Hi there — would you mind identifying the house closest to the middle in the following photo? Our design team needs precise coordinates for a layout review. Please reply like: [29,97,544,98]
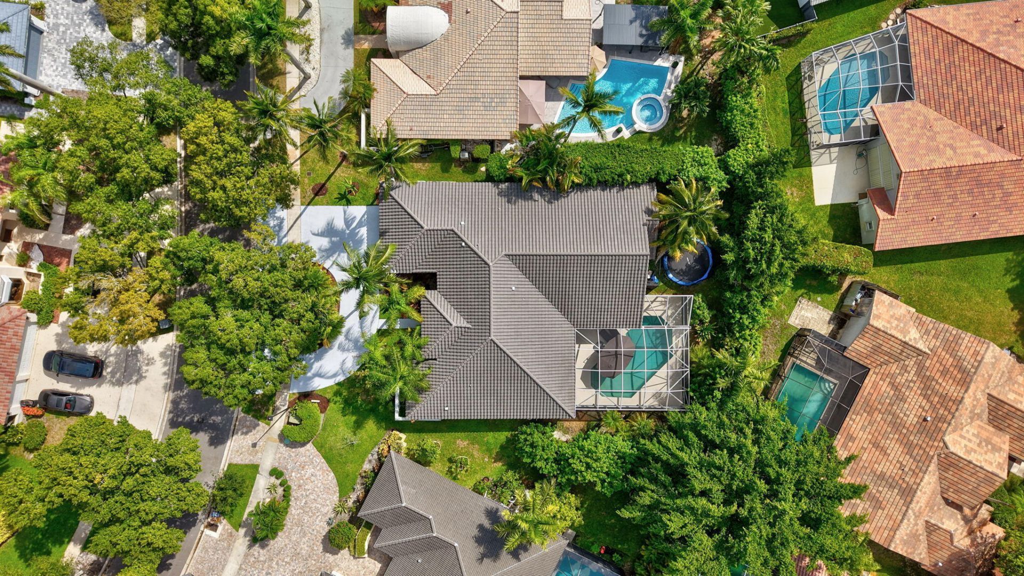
[378,180,659,421]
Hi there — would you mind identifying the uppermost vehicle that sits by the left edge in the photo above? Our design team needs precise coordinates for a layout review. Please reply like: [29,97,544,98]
[37,351,102,381]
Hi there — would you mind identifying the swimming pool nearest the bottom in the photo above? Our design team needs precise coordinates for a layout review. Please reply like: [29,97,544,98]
[554,547,625,576]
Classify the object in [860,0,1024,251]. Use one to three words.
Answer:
house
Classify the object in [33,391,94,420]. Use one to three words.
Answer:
car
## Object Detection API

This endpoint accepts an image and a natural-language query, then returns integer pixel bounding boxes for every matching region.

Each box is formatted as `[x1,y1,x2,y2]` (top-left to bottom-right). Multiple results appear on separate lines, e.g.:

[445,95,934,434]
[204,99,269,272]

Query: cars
[37,351,102,381]
[33,391,94,420]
